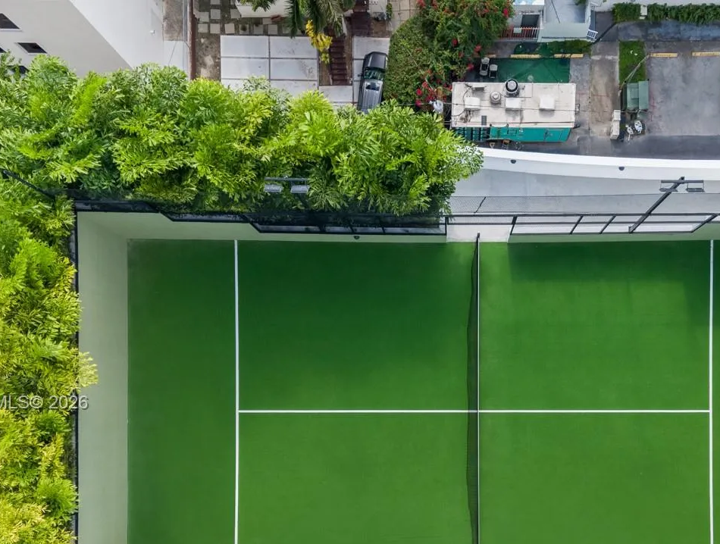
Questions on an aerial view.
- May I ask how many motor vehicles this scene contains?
two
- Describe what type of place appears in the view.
sports ground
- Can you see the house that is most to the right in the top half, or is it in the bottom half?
top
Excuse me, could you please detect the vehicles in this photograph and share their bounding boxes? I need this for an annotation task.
[452,77,576,147]
[352,47,390,127]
